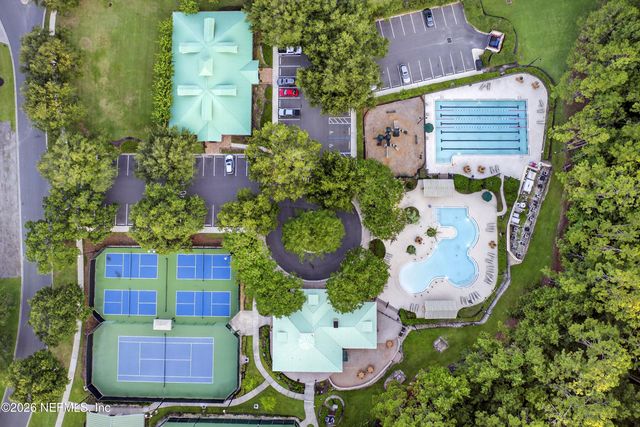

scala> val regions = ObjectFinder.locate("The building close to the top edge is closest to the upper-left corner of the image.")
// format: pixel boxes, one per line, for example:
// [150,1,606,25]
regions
[169,12,259,141]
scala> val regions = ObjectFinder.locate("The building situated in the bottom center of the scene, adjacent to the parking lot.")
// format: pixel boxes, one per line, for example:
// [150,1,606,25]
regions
[272,289,377,372]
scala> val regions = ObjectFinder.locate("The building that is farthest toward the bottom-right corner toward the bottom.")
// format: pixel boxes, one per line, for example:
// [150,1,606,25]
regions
[423,299,458,319]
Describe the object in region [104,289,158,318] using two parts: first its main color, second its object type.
blue sports court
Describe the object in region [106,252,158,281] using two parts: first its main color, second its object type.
blue sports court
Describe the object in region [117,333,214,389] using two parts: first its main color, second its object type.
blue tennis court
